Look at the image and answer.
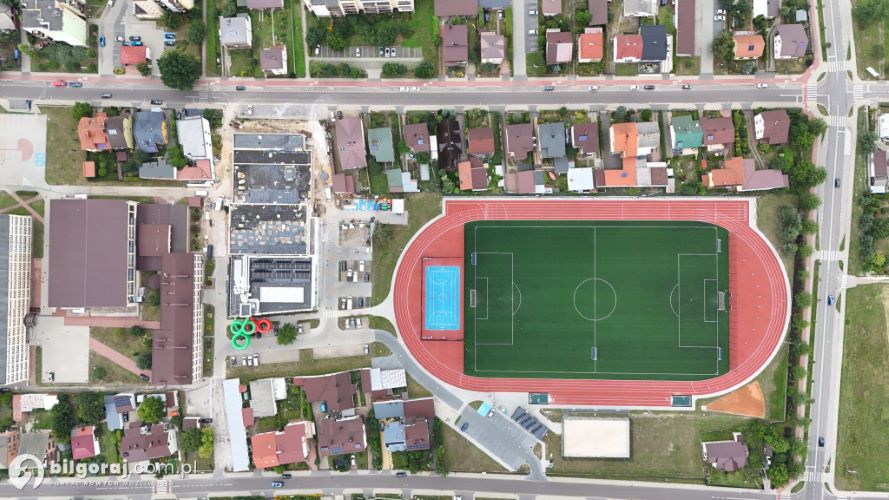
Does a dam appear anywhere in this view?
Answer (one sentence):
No, this view has no dam in it.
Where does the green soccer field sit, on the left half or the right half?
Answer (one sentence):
The green soccer field appears in the right half of the scene.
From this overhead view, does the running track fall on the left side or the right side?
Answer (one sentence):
The running track appears in the right half of the scene.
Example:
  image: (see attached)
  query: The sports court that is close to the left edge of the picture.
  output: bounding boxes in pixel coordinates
[0,114,49,187]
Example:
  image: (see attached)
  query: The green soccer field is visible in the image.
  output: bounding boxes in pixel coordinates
[464,220,729,379]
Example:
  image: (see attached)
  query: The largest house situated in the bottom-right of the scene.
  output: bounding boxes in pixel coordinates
[701,431,747,470]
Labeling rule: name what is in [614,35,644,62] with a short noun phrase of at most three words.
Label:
house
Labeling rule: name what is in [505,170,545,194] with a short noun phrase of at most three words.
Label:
shed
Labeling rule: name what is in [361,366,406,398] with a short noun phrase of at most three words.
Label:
building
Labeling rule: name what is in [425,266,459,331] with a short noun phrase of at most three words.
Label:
sports court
